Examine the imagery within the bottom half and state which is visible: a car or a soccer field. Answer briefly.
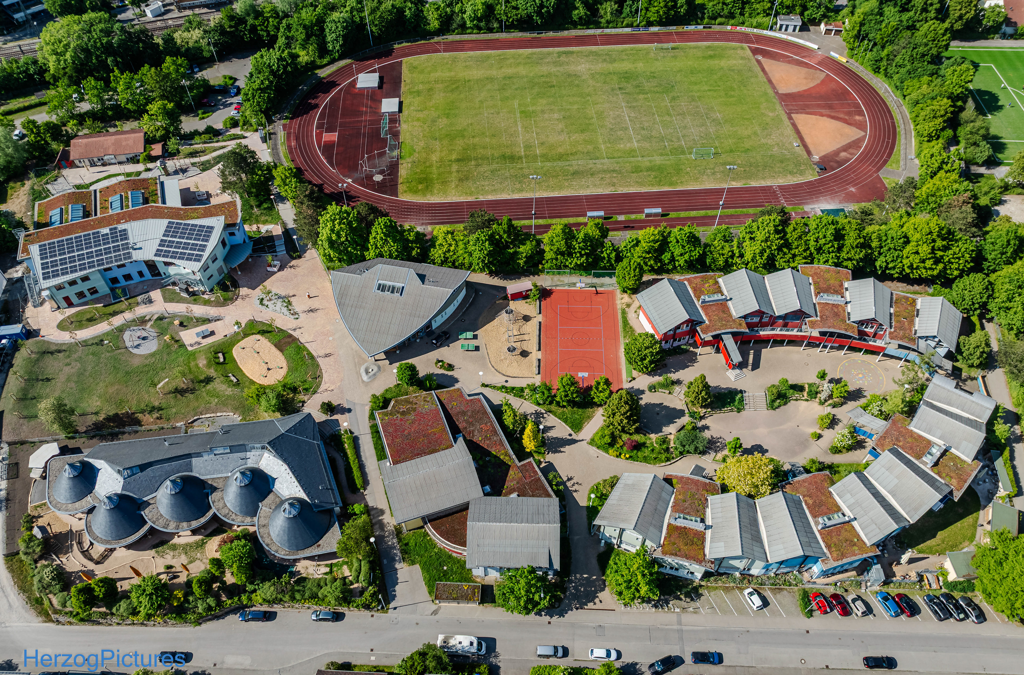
car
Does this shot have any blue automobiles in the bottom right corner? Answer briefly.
Yes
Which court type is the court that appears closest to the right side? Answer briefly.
basketball court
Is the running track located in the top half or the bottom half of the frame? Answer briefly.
top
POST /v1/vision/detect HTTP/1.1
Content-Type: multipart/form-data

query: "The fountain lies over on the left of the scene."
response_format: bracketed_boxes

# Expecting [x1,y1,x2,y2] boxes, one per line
[361,361,381,381]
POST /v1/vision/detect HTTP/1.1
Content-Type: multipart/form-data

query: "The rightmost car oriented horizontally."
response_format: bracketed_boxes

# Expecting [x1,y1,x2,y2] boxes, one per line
[861,653,899,671]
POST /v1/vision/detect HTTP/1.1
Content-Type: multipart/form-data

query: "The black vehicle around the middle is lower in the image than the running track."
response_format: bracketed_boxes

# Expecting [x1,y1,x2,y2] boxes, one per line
[432,331,449,346]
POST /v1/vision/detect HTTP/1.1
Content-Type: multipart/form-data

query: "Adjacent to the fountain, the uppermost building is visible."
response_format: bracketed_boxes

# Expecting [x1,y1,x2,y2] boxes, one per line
[330,257,476,361]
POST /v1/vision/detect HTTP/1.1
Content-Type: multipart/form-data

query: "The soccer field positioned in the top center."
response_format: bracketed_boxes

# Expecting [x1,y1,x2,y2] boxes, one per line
[397,42,821,201]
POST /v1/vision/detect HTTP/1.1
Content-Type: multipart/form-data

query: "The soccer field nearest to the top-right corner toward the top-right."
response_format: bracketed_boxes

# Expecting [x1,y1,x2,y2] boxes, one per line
[943,46,1024,166]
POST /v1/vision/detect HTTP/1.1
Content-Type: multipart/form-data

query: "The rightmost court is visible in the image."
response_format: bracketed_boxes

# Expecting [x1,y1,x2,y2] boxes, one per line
[540,288,623,395]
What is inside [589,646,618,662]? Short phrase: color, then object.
white car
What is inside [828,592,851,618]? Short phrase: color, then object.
red car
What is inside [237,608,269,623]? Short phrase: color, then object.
blue car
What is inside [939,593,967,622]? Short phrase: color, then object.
black car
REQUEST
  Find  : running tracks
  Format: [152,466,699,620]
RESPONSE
[287,30,909,240]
